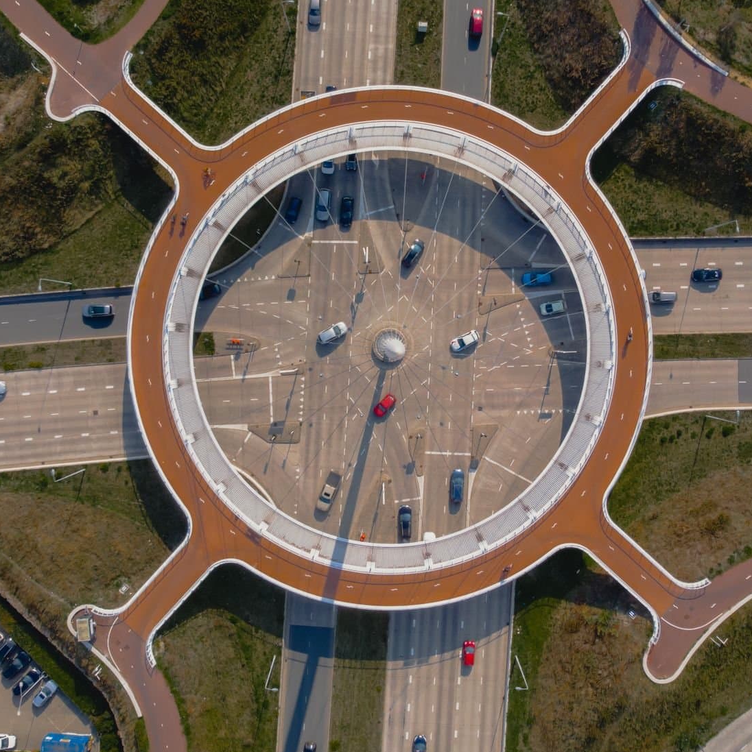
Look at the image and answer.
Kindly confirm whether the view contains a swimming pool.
No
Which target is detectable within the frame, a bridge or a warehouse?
bridge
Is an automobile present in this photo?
Yes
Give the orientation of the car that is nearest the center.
on a diagonal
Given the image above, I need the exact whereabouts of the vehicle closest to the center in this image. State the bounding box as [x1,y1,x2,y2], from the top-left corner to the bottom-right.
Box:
[371,393,396,420]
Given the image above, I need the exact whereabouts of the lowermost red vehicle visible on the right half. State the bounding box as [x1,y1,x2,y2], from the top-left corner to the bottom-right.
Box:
[463,641,477,667]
